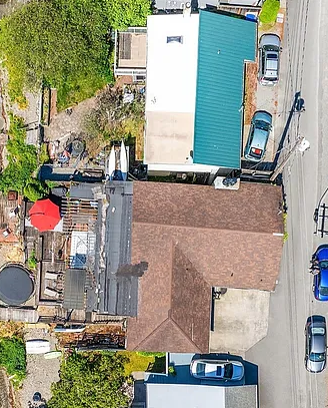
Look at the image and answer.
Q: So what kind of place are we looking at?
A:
residential area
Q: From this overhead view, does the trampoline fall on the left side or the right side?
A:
left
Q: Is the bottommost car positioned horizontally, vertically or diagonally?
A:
horizontally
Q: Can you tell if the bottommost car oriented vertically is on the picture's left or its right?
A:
right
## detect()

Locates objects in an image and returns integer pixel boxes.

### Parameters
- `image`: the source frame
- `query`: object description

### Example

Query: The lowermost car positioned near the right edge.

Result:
[302,316,328,372]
